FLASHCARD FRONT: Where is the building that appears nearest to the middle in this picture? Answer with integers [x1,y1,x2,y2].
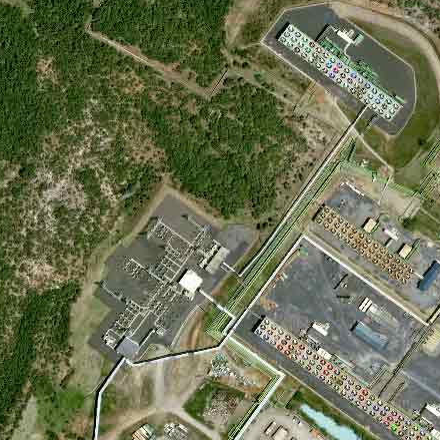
[204,245,228,273]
